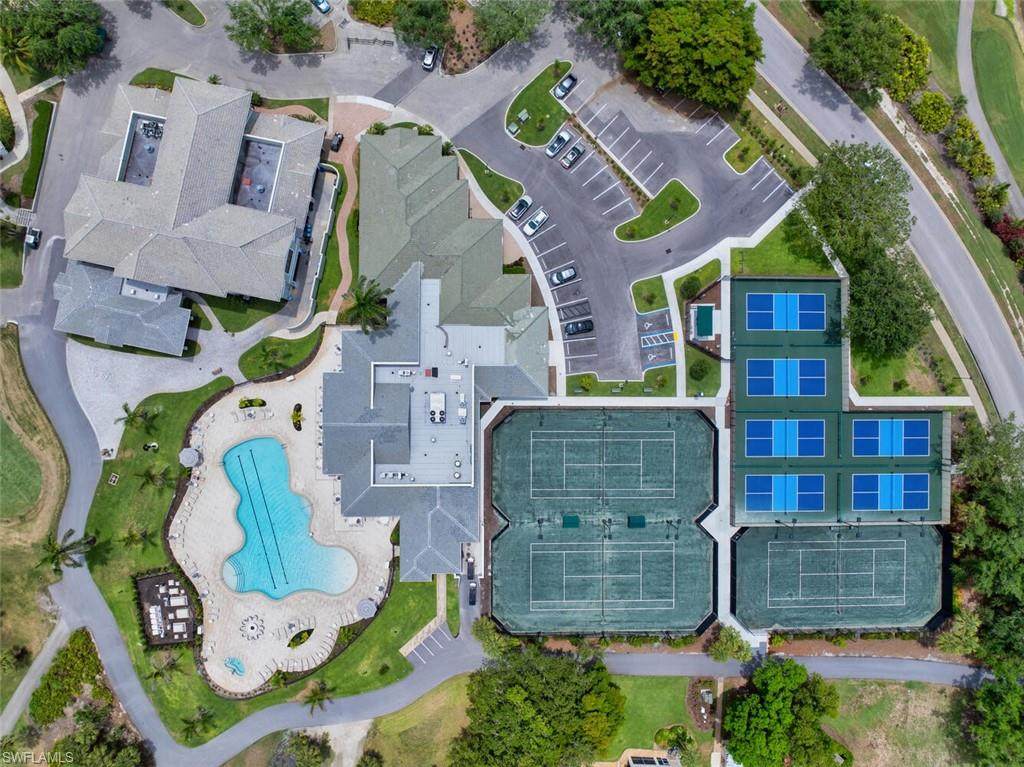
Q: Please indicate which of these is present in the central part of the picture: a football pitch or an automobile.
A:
automobile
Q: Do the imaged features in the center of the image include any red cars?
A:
No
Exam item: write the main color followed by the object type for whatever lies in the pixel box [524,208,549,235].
white car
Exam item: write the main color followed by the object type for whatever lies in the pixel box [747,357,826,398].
blue sports court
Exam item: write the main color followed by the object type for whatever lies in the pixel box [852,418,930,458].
blue sports court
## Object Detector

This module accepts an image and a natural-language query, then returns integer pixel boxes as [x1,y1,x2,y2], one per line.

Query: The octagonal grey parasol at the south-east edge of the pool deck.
[358,599,376,617]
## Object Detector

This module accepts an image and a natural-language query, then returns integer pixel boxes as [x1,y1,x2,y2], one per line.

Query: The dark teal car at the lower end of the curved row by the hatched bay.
[564,319,594,335]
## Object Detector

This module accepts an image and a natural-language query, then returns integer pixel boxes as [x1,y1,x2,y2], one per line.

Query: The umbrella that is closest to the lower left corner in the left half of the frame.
[180,448,198,466]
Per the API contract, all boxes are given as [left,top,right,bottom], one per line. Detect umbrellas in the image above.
[180,448,198,466]
[358,599,376,617]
